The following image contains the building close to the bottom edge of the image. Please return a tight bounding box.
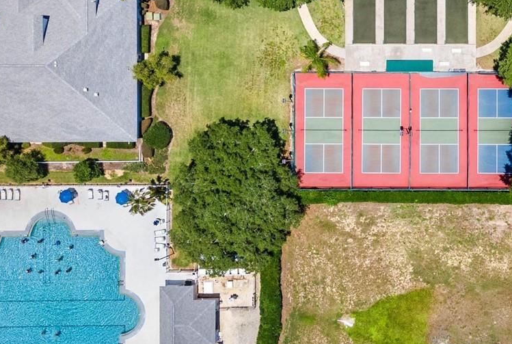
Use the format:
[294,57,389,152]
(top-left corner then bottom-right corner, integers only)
[159,284,220,344]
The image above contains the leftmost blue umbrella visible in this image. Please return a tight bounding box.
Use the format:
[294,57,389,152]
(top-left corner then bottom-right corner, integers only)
[62,189,76,202]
